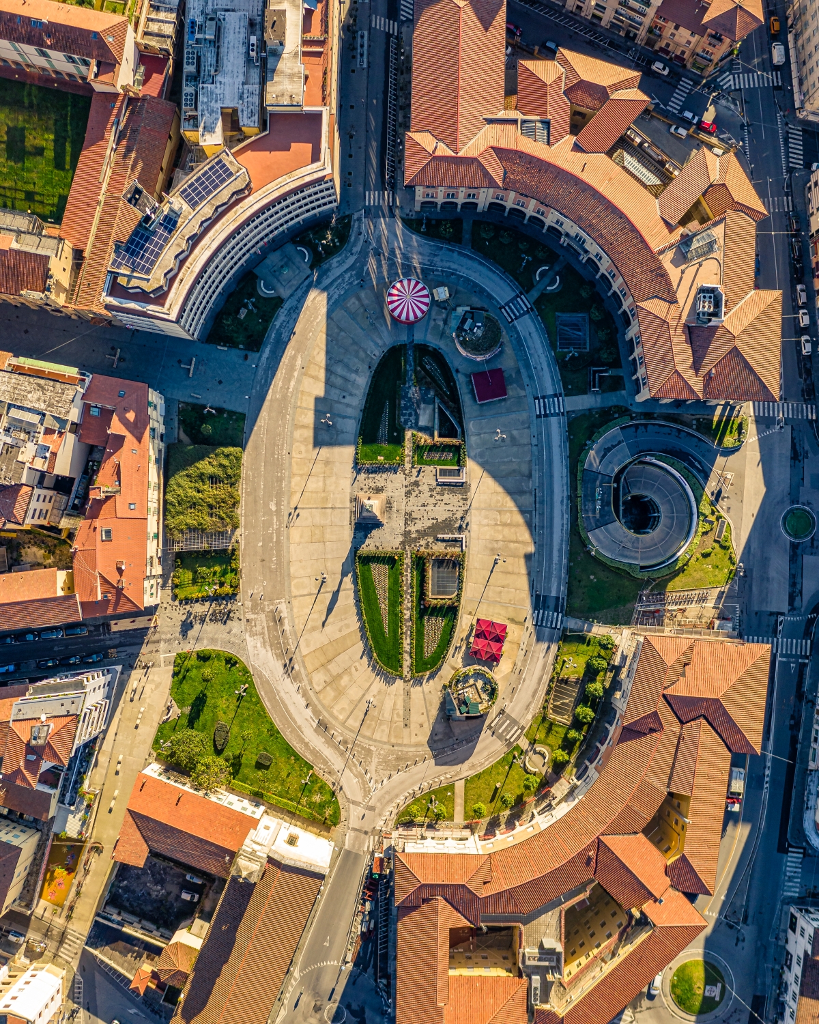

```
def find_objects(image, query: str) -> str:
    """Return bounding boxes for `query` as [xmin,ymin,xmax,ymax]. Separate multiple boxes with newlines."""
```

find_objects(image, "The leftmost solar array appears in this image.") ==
[111,228,185,270]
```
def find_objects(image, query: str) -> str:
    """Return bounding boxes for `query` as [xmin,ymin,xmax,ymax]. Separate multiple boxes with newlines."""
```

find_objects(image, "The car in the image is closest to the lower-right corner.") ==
[648,974,661,996]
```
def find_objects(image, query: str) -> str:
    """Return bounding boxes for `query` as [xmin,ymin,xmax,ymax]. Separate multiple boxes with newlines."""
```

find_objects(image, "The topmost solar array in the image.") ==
[179,158,230,207]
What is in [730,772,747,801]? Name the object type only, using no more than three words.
vehicle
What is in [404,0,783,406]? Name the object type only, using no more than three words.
building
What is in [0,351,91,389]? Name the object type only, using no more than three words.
house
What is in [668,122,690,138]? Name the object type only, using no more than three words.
car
